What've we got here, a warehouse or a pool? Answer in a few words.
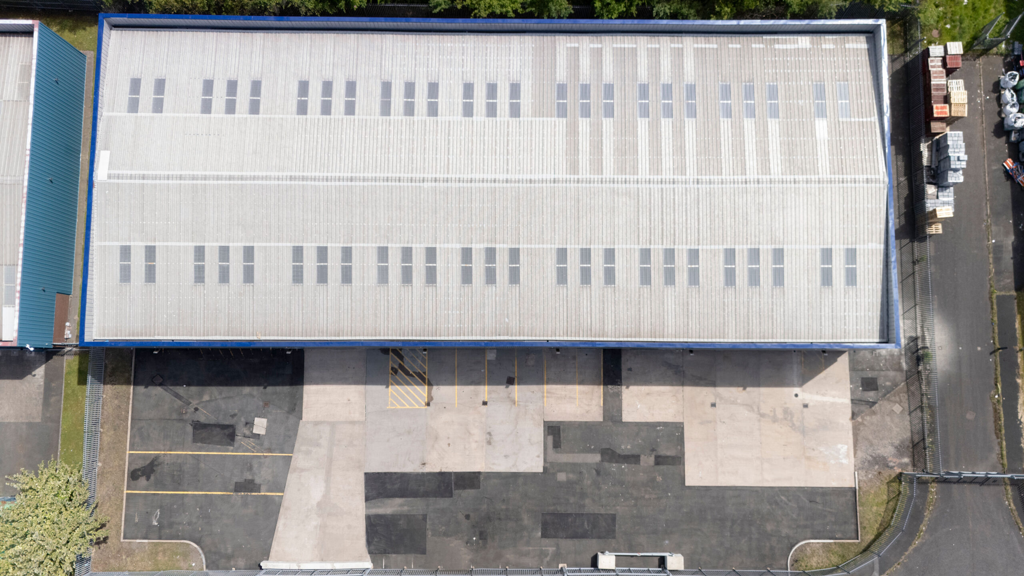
warehouse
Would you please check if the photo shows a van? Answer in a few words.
No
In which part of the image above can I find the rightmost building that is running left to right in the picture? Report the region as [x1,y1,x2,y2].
[80,14,901,347]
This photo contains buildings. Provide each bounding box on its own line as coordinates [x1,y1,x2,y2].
[80,14,901,347]
[0,21,87,347]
